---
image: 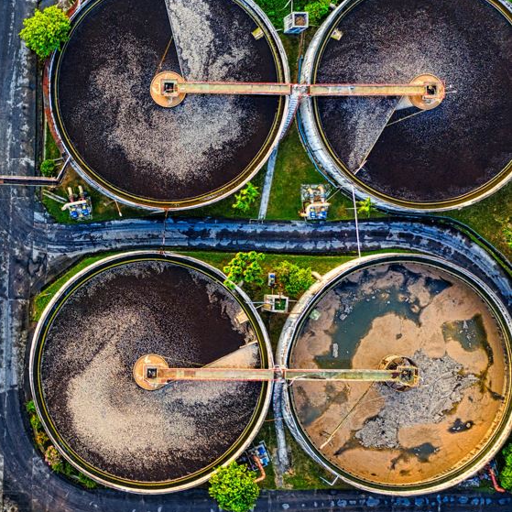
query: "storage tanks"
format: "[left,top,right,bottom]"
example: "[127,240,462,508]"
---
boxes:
[40,0,296,210]
[290,0,512,212]
[28,248,278,495]
[271,250,512,496]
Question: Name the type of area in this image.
industrial area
